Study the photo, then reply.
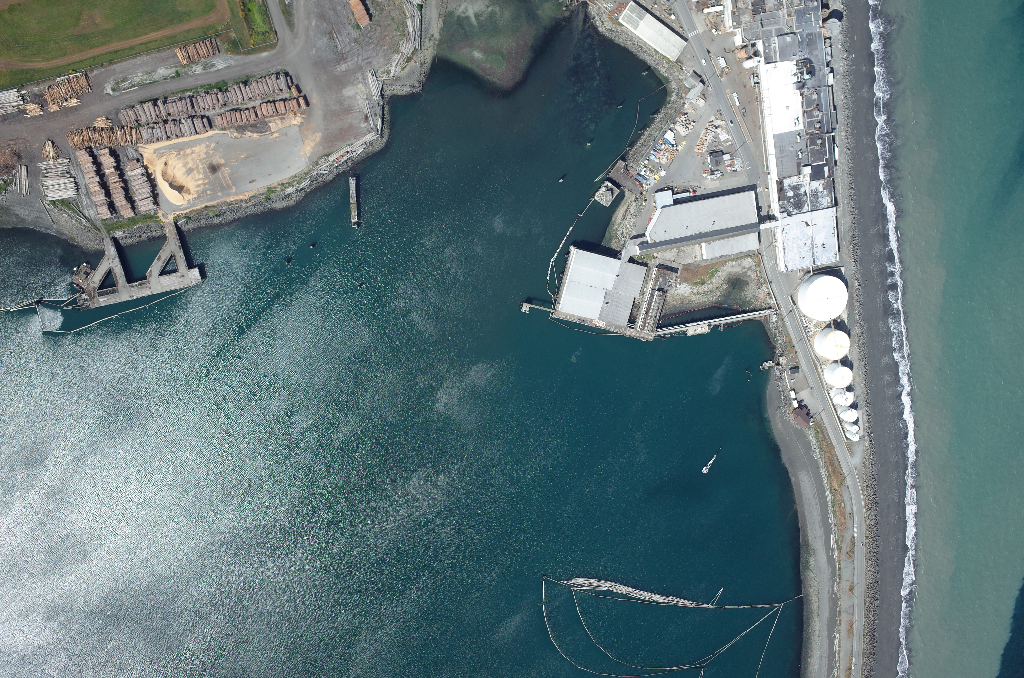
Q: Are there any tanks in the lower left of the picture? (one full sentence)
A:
No, the scene shows no tank in the lower left of the picture.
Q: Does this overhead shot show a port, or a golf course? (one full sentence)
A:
This looks like a port.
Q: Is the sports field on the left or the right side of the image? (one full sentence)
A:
The sports field is on the left side of the image.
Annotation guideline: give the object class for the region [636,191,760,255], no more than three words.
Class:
building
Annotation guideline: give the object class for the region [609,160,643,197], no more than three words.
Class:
pier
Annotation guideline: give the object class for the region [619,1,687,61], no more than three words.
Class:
building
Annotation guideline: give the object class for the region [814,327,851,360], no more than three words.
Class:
storage tank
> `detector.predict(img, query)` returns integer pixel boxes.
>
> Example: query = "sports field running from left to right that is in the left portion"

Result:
[0,0,275,89]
